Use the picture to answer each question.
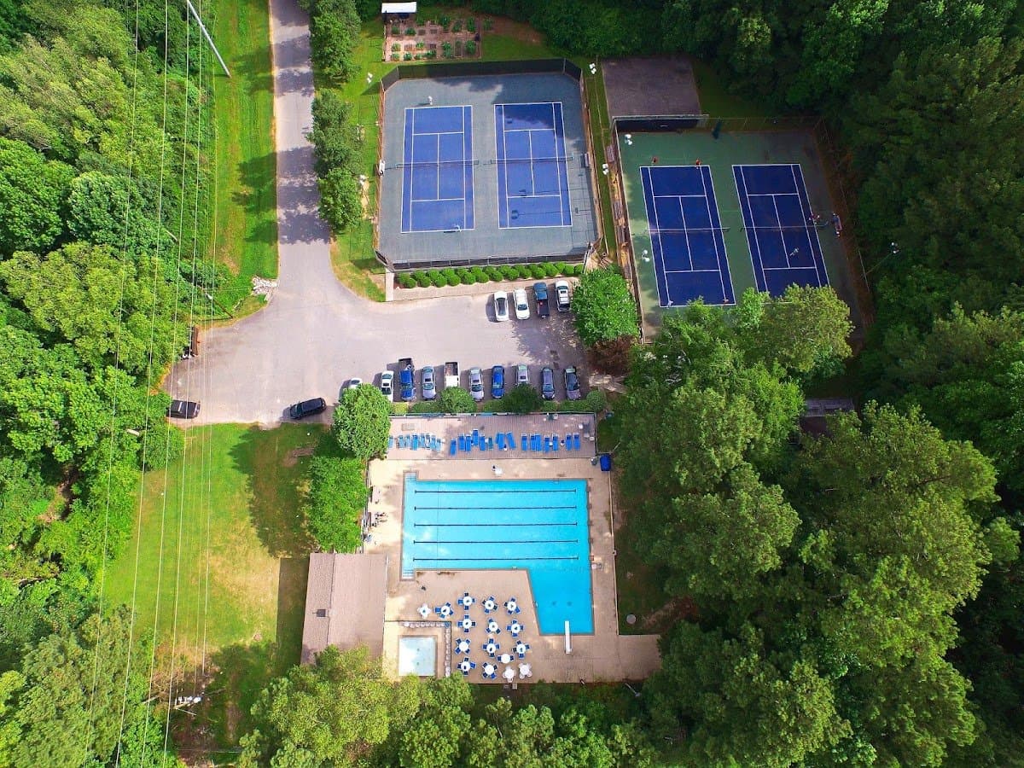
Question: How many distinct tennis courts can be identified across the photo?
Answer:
4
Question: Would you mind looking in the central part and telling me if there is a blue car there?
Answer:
Yes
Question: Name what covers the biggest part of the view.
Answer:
trees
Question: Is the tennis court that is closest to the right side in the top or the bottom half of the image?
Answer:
top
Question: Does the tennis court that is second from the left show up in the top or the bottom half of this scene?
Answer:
top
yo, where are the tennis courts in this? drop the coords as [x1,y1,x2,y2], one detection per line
[395,105,480,233]
[490,102,574,229]
[640,166,733,306]
[731,163,832,301]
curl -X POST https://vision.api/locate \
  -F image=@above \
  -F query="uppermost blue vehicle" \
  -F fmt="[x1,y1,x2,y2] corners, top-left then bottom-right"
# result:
[534,281,551,318]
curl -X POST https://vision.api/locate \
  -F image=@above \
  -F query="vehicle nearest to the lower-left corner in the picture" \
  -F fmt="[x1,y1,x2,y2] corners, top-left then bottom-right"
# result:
[161,399,205,418]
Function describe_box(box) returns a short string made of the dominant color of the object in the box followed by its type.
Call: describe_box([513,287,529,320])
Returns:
white car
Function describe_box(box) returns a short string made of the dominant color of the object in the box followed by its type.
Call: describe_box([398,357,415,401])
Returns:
blue vehicle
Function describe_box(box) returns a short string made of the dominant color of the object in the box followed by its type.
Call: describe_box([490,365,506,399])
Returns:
blue car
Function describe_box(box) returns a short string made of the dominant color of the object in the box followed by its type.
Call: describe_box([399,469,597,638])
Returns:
blue swimming pool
